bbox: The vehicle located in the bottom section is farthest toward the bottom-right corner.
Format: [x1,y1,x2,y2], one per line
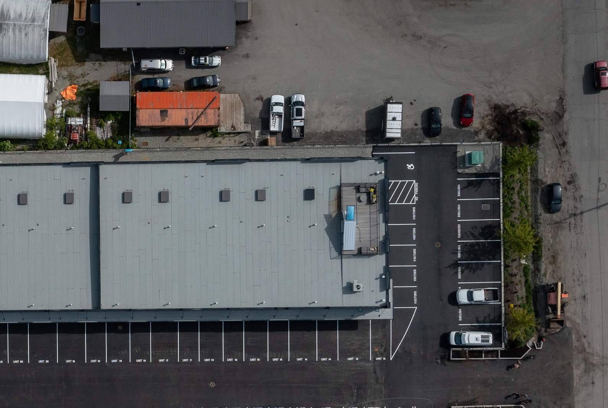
[545,287,573,327]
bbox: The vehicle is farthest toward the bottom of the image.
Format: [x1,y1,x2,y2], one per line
[447,329,496,347]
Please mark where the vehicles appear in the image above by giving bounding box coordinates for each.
[546,183,564,214]
[590,60,608,92]
[455,287,499,305]
[189,73,220,91]
[290,94,307,140]
[141,74,171,92]
[426,107,443,138]
[191,57,221,70]
[457,93,476,128]
[545,287,573,327]
[447,329,496,347]
[268,95,286,133]
[68,121,82,142]
[140,58,173,76]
